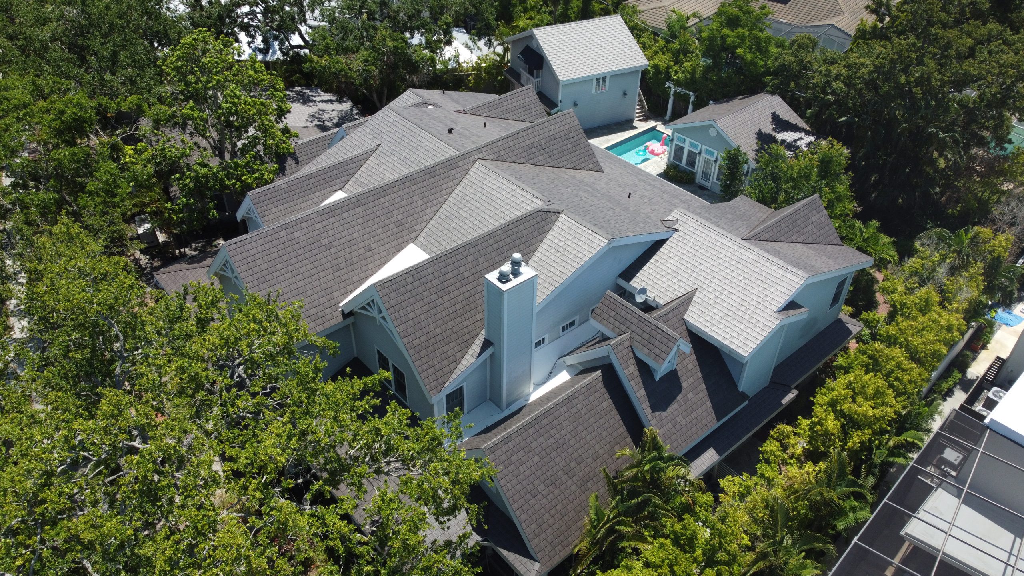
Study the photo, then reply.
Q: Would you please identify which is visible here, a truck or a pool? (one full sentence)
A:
This aerial view contains a pool.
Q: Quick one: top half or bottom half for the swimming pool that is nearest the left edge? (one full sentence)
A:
The swimming pool that is nearest the left edge sits in the top half of the picture.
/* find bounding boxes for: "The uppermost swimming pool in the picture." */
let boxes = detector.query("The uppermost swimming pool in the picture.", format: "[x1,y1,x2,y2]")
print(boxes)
[602,121,672,166]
